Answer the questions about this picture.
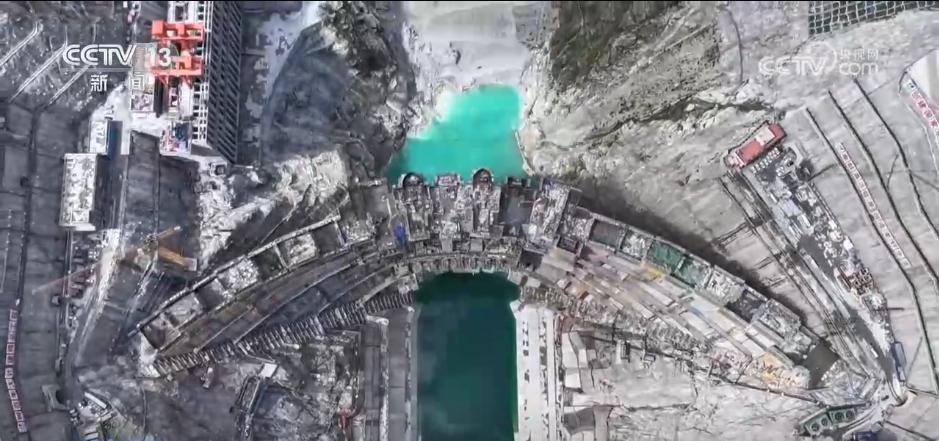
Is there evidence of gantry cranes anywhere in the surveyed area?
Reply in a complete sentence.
Yes, the frame does contain a gantry crane.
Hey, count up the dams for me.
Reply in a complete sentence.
Just 1 dam appears in this view.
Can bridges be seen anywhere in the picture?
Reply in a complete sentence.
No, I can't see a single bridge in this photo.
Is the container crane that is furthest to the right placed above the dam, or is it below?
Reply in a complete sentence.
In the image, the container crane that is furthest to the right sits above the dam.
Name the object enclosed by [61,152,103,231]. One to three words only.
building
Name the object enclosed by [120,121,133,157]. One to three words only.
shed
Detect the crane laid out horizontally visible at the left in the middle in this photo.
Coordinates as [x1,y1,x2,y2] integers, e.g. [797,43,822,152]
[32,224,199,292]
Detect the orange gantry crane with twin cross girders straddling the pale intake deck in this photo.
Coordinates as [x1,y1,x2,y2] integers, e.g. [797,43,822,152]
[151,20,209,80]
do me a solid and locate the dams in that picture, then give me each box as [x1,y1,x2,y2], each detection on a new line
[139,166,831,391]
